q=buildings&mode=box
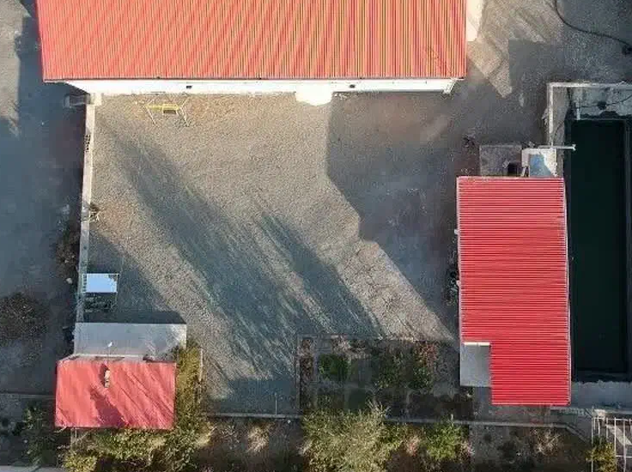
[55,318,196,429]
[34,0,469,93]
[454,176,571,405]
